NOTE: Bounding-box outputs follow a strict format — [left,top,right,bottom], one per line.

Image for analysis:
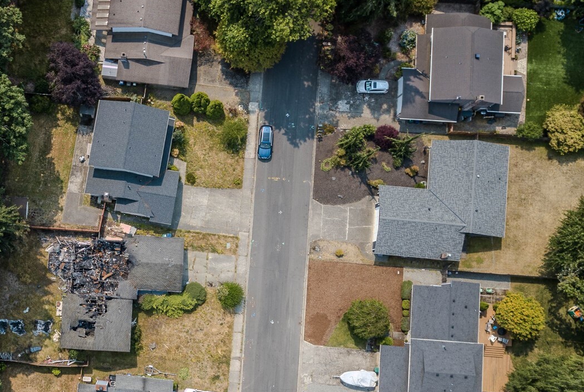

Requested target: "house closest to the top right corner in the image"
[384,12,525,123]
